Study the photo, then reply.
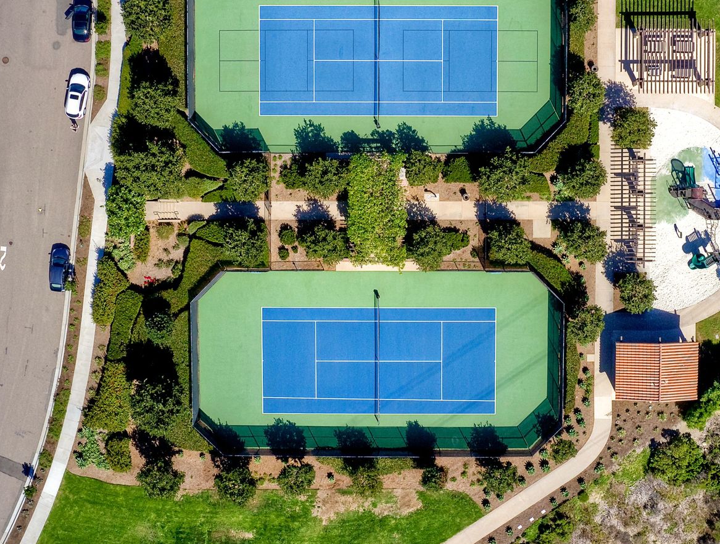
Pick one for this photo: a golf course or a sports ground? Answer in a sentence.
It's a sports ground.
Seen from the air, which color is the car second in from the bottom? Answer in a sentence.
The car second in from the bottom looks white in the image.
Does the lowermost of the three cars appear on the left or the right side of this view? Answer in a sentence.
It is on the left.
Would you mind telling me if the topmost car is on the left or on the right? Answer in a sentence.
The topmost car sits on the left side.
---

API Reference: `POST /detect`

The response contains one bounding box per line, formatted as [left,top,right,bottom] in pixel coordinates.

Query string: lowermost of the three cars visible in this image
[47,245,77,290]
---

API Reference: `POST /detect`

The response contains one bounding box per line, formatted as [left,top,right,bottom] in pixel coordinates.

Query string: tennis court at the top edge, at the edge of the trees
[195,0,562,154]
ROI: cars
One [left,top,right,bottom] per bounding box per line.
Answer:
[47,245,77,290]
[64,68,91,117]
[63,0,93,41]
